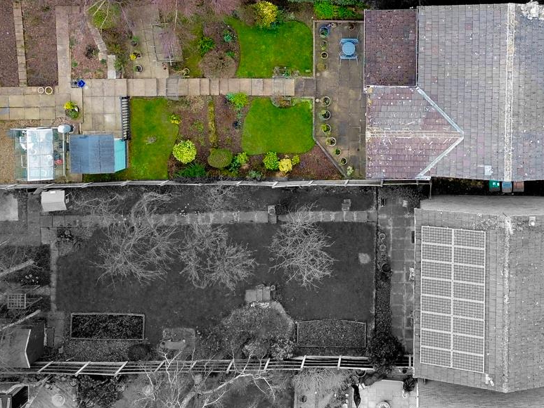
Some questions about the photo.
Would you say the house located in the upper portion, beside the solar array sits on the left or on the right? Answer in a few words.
right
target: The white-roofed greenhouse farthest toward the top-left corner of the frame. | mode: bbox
[26,129,66,181]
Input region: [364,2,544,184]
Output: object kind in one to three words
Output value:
house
